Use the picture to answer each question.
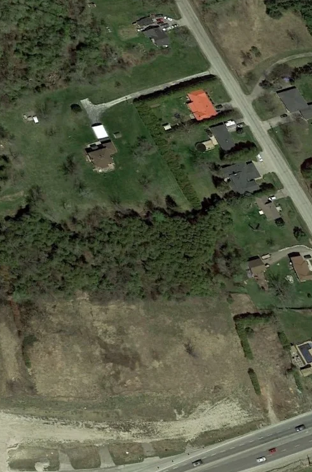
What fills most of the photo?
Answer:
grass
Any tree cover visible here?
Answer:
Yes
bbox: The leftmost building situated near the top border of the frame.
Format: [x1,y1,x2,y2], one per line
[136,15,170,51]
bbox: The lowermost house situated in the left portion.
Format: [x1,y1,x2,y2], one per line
[86,139,116,173]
